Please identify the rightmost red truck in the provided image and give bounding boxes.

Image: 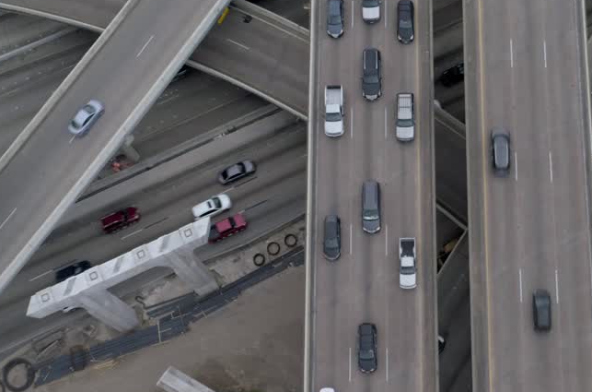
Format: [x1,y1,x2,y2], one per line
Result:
[210,209,249,243]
